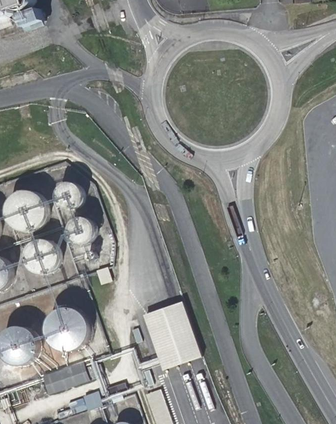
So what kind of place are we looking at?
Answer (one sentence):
The area seen from above is an industrial area.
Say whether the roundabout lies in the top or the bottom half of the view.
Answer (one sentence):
The roundabout is in the top half of the image.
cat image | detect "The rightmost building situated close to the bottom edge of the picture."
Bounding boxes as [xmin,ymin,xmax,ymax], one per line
[146,387,176,424]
